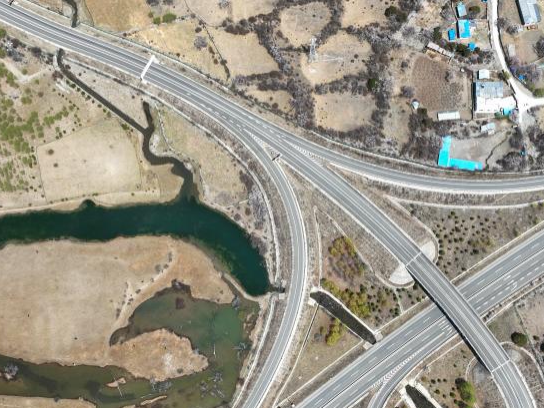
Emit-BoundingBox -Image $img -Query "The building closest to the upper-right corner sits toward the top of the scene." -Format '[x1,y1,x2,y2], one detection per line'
[516,0,541,26]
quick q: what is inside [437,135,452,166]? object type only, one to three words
house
